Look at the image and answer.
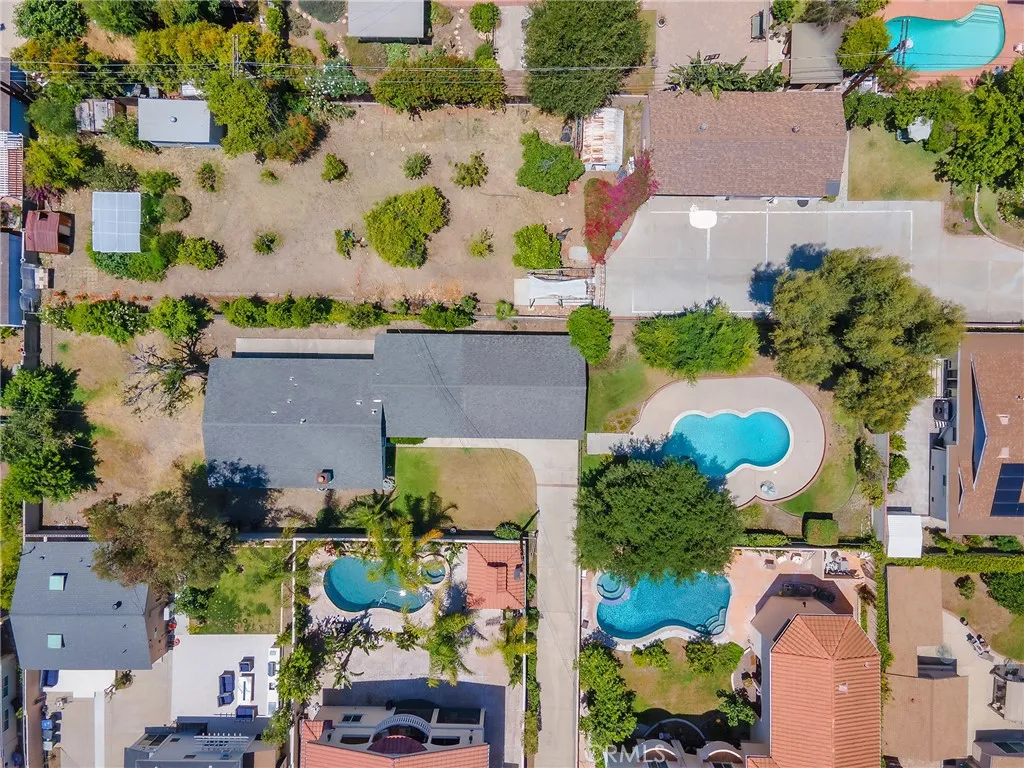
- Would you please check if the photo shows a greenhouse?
Yes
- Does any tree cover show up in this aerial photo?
Yes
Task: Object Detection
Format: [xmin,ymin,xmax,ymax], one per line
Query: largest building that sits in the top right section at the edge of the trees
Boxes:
[649,92,848,205]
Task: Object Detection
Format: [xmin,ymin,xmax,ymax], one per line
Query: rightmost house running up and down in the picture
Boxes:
[931,333,1024,534]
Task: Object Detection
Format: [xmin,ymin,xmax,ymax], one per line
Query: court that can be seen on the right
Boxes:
[606,190,1024,322]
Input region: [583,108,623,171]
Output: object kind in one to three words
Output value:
shed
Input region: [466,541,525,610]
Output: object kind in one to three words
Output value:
building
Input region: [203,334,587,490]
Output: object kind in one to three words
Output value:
house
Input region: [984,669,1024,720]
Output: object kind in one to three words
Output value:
gazebo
